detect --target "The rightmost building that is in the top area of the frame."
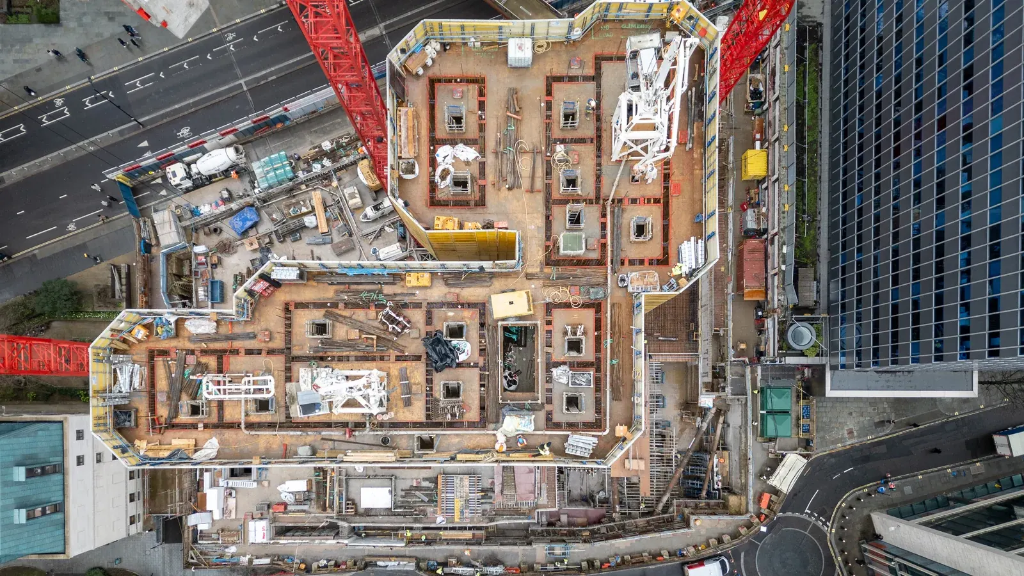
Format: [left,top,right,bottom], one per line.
[831,0,1024,371]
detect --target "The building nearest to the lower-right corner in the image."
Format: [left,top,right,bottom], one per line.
[860,473,1024,576]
